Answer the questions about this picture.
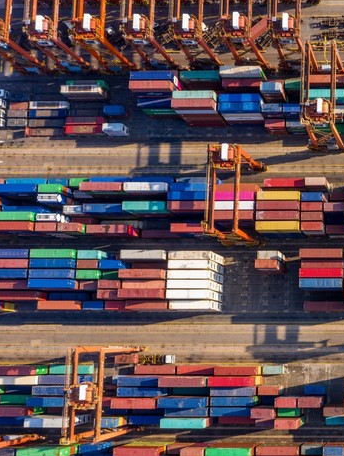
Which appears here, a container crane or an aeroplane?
container crane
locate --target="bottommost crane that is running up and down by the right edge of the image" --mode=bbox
[298,39,344,147]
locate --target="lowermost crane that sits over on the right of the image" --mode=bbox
[203,142,268,243]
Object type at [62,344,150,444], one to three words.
container crane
